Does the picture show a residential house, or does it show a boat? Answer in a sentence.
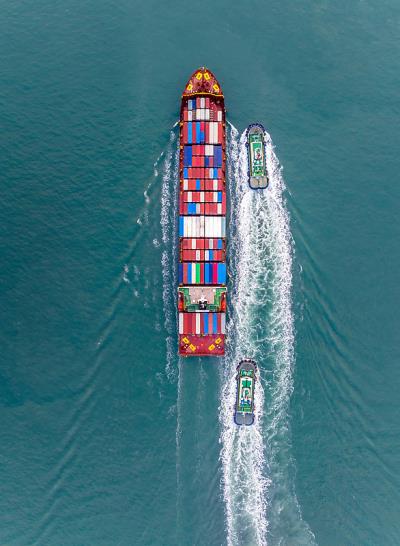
Visible in the photo is a boat.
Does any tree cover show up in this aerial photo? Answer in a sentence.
No, the picture contains no tree cover.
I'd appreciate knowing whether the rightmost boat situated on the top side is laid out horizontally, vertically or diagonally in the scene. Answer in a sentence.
In this picture, the rightmost boat situated on the top side is oriented vertically.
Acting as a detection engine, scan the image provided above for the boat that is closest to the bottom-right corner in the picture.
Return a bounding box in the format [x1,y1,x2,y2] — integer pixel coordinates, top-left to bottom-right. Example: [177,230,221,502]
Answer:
[234,359,257,424]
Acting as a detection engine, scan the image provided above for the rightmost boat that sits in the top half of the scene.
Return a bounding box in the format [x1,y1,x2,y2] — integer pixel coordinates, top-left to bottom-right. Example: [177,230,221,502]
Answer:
[246,122,269,189]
